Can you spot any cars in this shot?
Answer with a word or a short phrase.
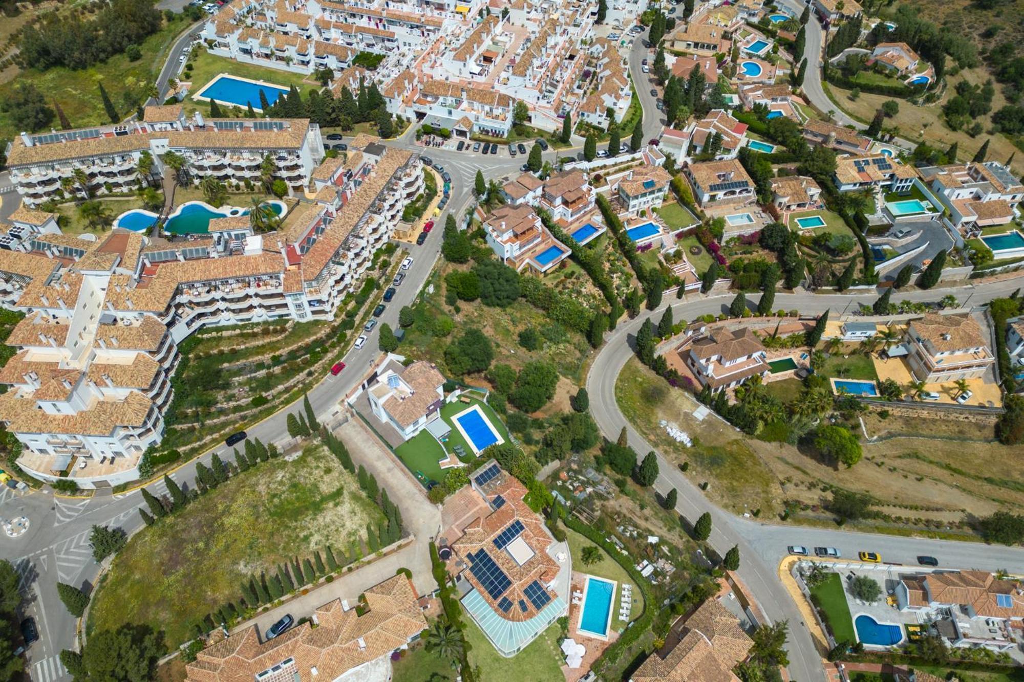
Yes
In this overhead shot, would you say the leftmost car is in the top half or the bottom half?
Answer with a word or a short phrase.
bottom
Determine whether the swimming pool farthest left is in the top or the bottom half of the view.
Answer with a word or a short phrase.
top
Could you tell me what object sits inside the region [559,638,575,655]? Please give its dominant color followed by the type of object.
white umbrella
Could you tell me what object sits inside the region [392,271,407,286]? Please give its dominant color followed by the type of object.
gray car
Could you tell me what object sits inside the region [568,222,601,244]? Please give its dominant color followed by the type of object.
blue swimming pool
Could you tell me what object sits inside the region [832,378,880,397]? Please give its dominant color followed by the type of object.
blue swimming pool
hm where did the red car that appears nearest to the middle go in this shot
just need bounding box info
[421,220,436,232]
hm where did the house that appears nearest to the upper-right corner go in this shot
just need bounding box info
[866,40,924,80]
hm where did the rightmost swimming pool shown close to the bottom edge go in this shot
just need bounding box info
[849,610,909,651]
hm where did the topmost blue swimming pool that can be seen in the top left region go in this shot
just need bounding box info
[193,74,295,112]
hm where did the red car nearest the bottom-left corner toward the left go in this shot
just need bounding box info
[329,362,347,375]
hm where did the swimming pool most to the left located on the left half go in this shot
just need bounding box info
[112,209,157,234]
